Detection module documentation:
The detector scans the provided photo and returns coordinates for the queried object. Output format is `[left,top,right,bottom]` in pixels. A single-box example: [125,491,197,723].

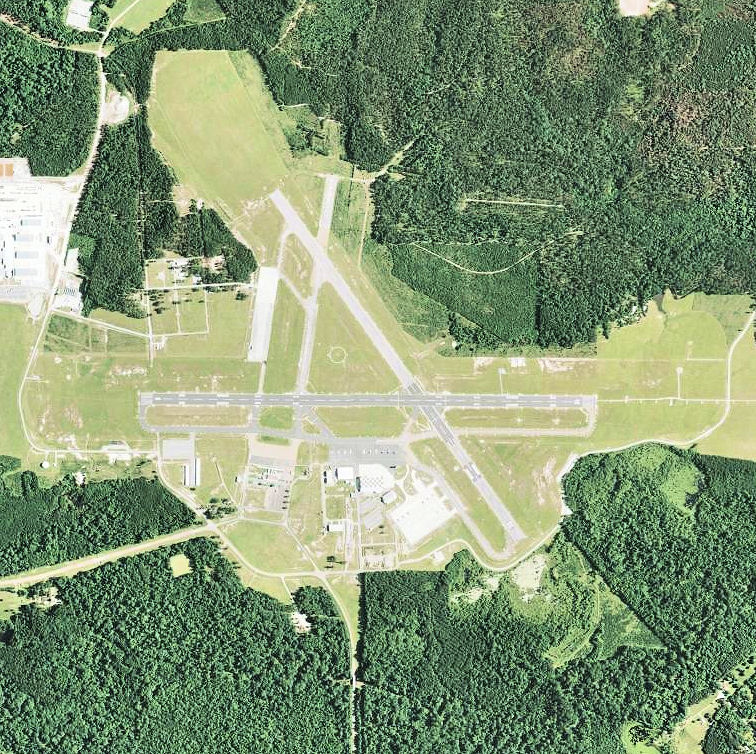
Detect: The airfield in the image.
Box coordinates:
[44,176,692,559]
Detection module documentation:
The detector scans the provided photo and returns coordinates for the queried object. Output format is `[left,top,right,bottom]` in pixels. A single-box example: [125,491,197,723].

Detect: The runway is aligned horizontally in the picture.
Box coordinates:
[140,392,597,408]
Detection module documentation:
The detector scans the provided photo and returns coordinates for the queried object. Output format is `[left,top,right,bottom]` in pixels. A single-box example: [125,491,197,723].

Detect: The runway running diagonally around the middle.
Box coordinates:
[269,190,524,542]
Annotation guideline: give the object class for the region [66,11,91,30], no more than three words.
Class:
building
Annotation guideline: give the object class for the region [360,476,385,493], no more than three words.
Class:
hangar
